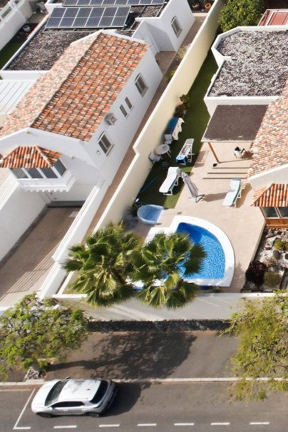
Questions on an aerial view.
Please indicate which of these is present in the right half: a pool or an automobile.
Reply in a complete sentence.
It is a pool that can be seen in the right half.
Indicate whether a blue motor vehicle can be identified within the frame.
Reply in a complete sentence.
No, I can see no blue motor vehicle in this picture.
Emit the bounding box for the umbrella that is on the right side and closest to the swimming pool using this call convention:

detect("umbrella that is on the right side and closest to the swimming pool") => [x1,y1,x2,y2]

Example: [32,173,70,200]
[170,160,202,203]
